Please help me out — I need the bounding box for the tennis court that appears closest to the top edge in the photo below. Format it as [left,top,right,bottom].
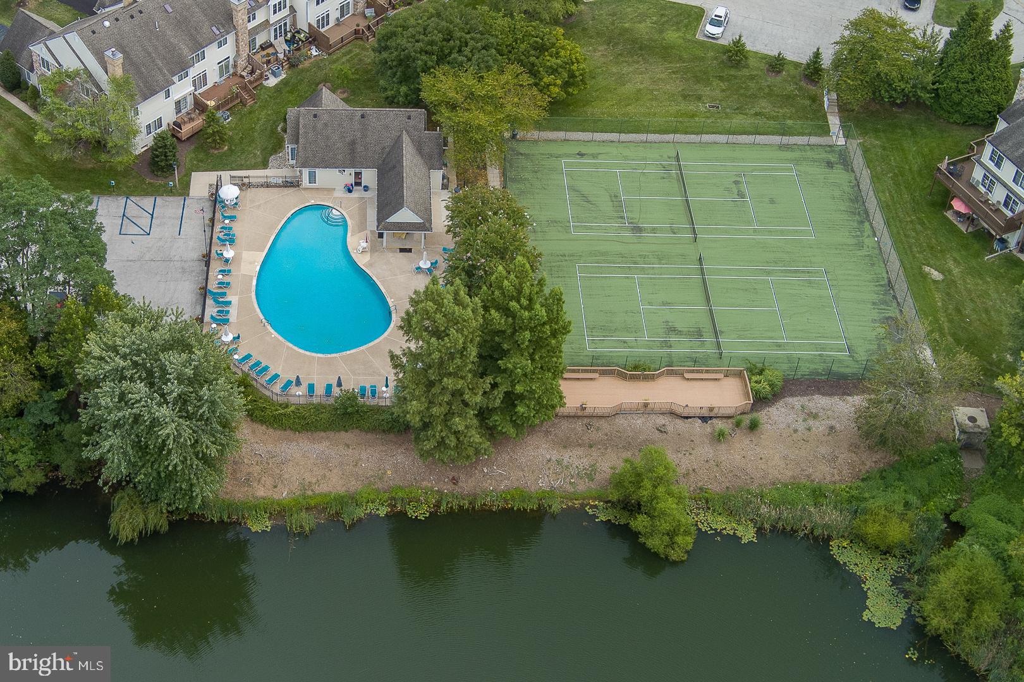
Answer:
[507,140,877,254]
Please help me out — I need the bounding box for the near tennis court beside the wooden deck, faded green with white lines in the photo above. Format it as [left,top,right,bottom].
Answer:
[529,248,910,380]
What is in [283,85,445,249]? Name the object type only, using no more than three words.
building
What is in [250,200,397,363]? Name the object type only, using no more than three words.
swimming pool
